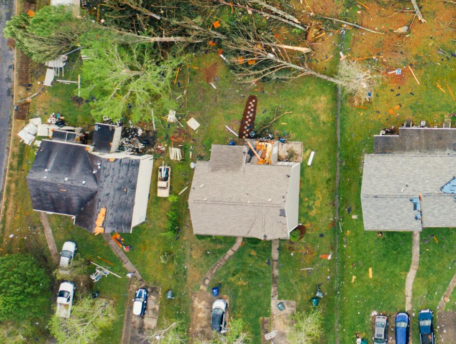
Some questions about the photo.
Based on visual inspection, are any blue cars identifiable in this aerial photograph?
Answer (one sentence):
Yes, a blue car can be made out from above.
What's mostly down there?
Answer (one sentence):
The bulk of the photo consists of grass.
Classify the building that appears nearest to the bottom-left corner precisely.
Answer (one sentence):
I'd identify the building that appears nearest to the bottom-left corner as a house.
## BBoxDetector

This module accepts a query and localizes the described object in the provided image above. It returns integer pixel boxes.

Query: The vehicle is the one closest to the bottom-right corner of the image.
[416,307,435,344]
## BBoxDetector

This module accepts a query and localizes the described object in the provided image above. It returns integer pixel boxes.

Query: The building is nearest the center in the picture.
[185,140,301,242]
